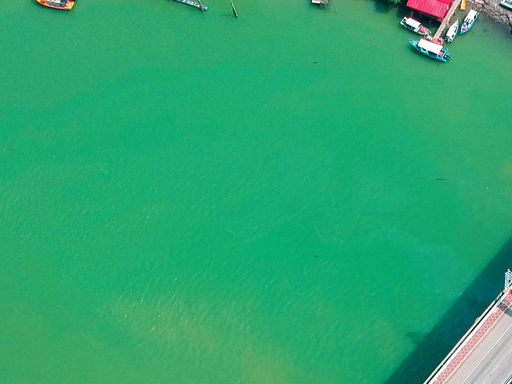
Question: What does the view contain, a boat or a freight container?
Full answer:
Of the two, only a boat appears.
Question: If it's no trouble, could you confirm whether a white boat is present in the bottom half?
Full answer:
No, the scene shows no white boat in the bottom half.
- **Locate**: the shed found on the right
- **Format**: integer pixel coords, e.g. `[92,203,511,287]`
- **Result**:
[406,0,455,26]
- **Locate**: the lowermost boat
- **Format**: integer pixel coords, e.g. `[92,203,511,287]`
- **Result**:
[409,37,452,63]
